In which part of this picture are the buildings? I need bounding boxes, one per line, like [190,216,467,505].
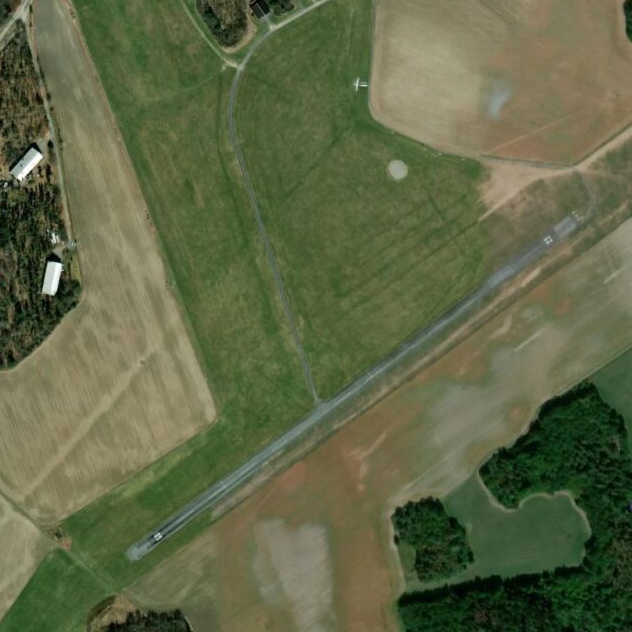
[250,0,271,19]
[10,147,43,182]
[42,261,62,296]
